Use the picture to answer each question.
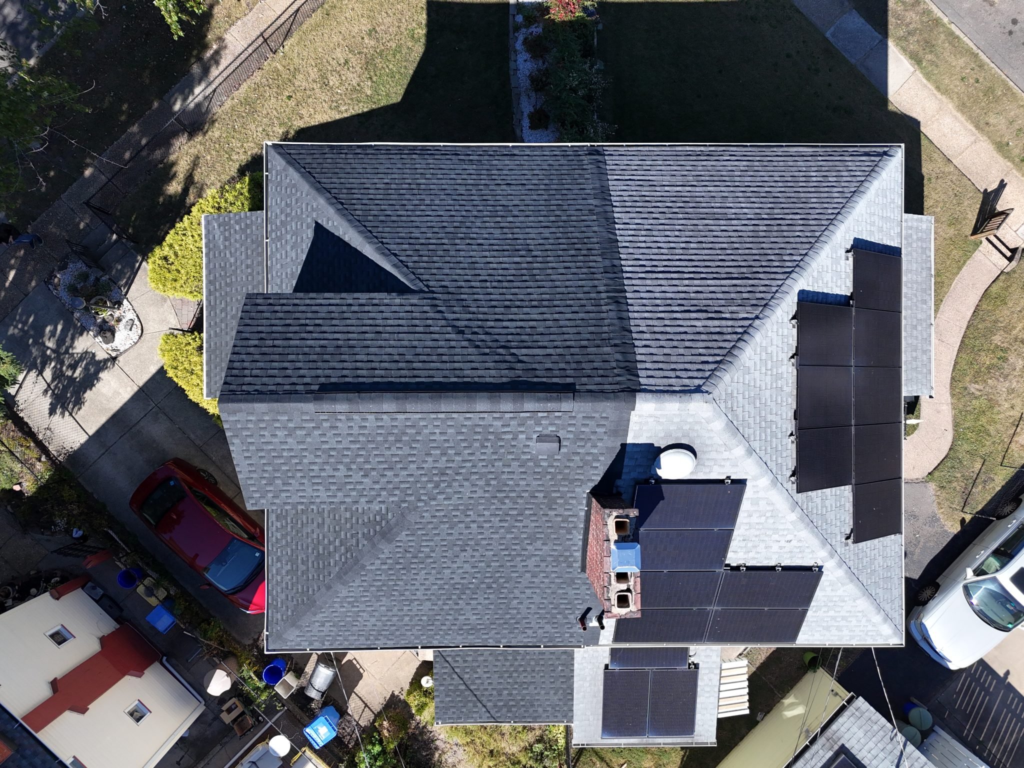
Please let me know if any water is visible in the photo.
No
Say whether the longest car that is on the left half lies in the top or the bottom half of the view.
bottom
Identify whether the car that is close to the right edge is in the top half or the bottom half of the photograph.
bottom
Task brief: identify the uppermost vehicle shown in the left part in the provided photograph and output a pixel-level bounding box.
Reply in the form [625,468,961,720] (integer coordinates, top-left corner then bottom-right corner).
[131,454,264,607]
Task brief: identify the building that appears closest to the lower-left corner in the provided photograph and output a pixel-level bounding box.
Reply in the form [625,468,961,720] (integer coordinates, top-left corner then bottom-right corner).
[0,592,205,768]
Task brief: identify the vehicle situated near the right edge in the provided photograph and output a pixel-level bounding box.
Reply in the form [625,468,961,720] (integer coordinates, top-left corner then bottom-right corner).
[905,482,1024,661]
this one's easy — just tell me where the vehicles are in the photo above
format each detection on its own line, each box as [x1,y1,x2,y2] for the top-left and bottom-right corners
[905,482,1024,661]
[131,454,264,607]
